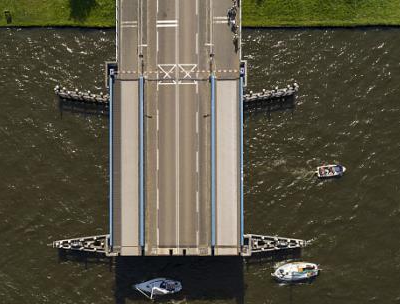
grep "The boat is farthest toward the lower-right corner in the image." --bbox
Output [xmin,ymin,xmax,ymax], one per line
[271,262,320,281]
